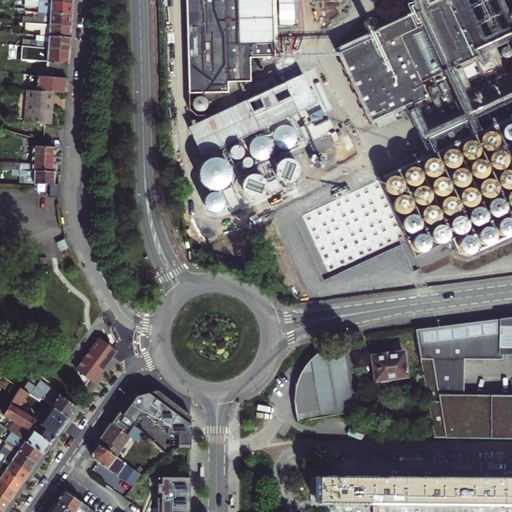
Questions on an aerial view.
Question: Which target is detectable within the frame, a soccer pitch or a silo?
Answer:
silo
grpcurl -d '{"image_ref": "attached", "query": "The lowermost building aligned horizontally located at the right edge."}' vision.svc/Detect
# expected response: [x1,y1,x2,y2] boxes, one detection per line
[314,475,512,506]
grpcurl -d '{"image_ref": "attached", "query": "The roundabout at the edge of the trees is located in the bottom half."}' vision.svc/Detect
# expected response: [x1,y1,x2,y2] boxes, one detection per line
[151,274,277,400]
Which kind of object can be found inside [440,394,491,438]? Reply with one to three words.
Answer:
building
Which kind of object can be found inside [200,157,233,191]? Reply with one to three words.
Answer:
storage tank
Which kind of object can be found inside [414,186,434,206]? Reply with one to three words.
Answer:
silo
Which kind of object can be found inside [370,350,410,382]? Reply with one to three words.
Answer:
house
